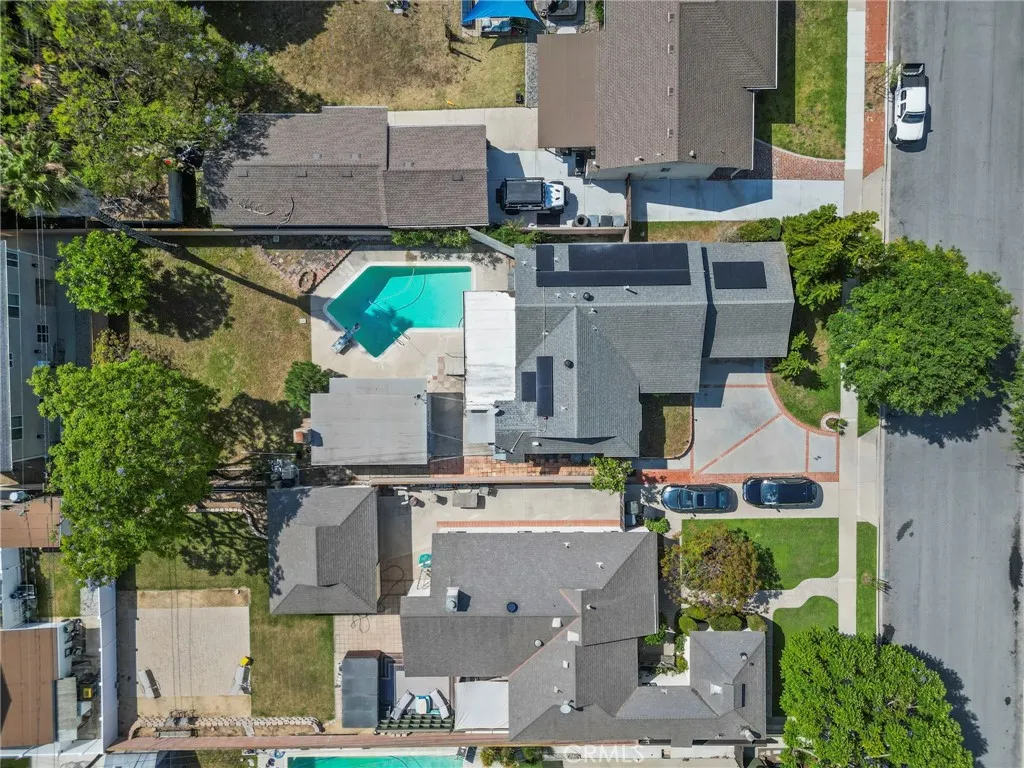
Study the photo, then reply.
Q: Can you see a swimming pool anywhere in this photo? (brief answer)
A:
Yes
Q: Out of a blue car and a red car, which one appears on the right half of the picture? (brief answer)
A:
blue car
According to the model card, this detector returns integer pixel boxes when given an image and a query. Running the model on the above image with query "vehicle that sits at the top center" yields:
[497,176,563,211]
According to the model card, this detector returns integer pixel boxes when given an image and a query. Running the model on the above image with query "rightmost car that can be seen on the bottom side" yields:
[743,480,820,514]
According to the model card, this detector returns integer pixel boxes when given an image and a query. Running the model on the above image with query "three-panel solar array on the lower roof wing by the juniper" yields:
[713,261,767,288]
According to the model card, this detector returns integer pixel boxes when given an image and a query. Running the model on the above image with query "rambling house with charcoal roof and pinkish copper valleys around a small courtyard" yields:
[400,530,767,743]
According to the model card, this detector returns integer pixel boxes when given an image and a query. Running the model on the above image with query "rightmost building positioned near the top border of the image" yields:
[594,0,779,179]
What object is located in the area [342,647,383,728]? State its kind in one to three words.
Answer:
shed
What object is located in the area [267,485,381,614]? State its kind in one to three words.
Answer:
building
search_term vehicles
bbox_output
[887,64,931,147]
[743,480,820,514]
[660,484,733,516]
[497,176,563,211]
